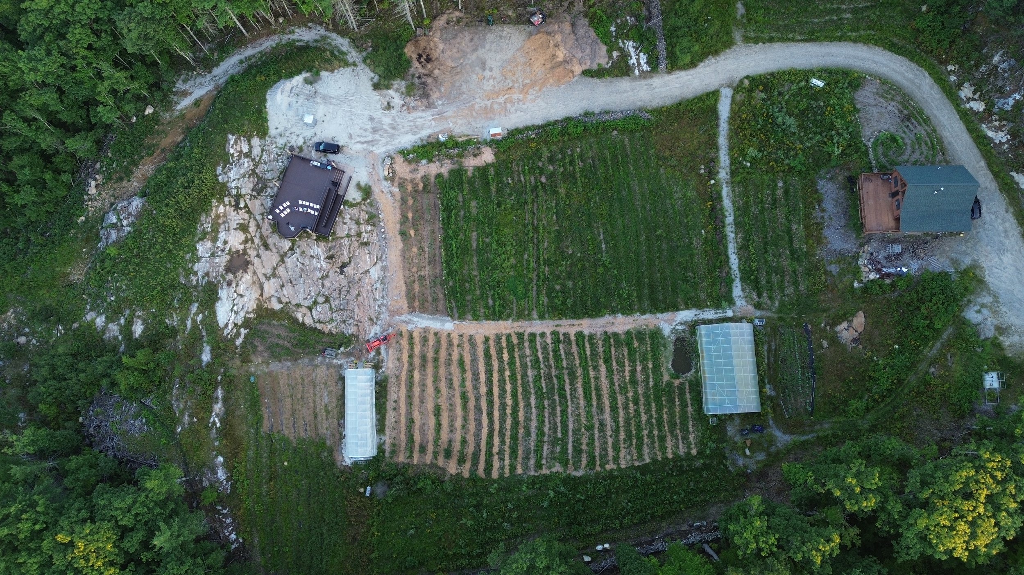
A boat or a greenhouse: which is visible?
greenhouse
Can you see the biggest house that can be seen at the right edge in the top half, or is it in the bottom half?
top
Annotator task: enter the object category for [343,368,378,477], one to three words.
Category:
greenhouse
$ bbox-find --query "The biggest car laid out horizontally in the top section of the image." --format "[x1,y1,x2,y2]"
[313,140,340,154]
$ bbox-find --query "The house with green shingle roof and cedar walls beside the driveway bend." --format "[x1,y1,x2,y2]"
[856,165,979,234]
